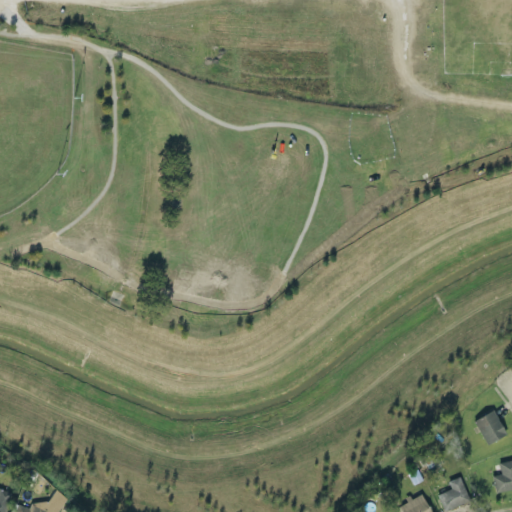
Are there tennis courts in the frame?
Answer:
No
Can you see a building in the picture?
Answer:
Yes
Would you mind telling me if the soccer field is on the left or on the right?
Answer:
right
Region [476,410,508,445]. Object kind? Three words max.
house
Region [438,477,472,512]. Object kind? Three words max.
house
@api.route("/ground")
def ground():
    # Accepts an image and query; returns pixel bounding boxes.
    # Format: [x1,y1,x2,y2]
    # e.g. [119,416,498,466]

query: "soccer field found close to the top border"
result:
[443,0,512,75]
